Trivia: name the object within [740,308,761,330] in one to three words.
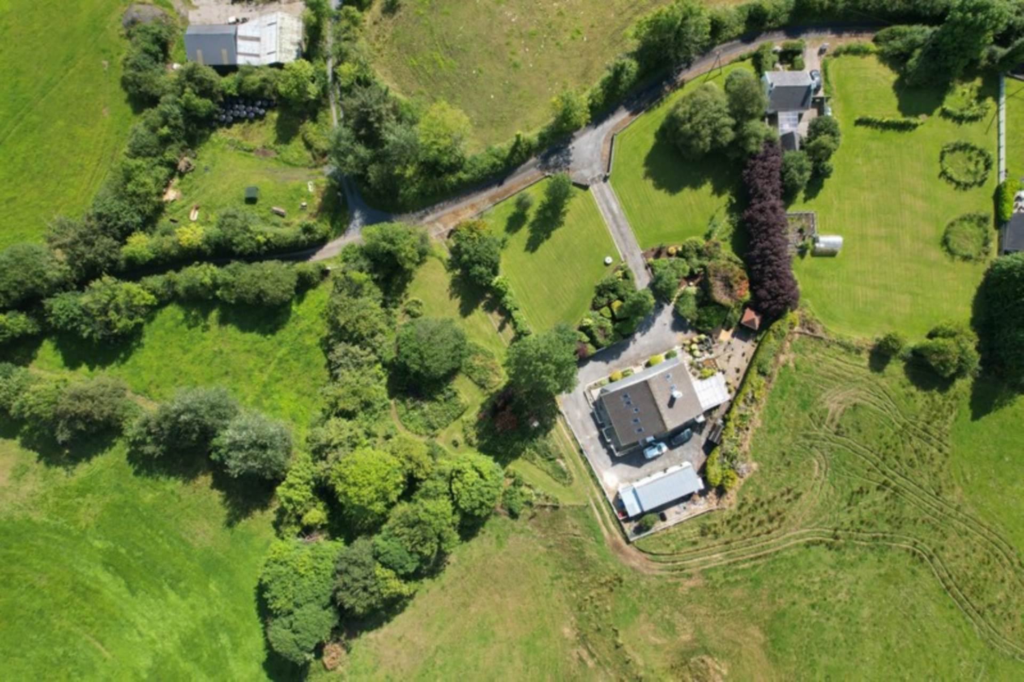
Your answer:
gazebo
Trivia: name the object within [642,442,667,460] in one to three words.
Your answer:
car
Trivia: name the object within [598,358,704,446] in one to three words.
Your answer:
house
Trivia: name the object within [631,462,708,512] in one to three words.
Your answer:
building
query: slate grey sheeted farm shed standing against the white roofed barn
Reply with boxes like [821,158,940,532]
[184,25,241,72]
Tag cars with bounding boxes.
[642,442,667,460]
[668,429,693,447]
[809,69,822,93]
